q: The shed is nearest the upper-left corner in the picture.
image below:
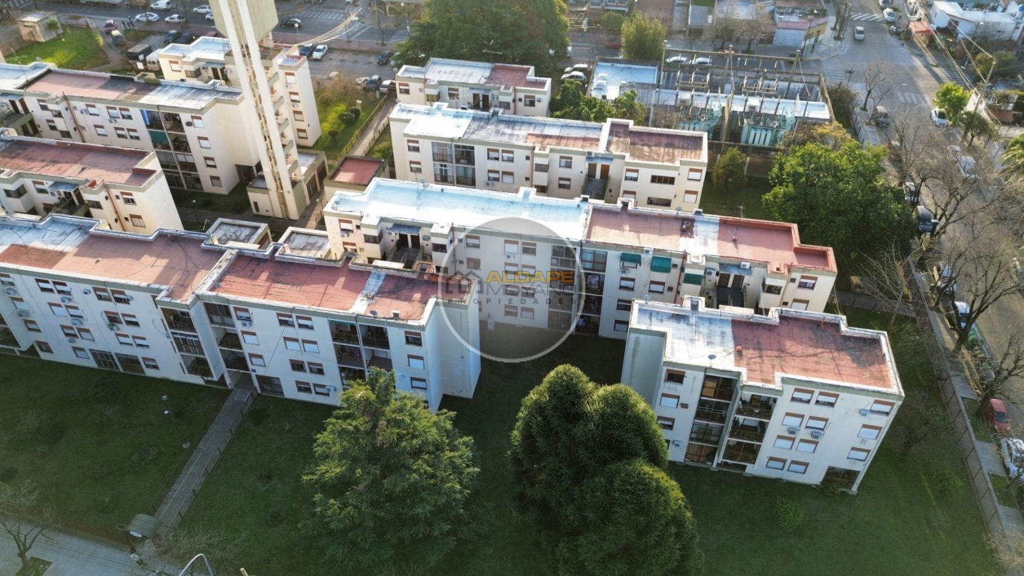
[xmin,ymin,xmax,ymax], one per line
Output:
[12,8,65,40]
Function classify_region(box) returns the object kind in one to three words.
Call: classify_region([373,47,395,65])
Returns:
car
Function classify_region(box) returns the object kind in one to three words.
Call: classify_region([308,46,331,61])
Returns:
car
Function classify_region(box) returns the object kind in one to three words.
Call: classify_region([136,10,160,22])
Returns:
vehicle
